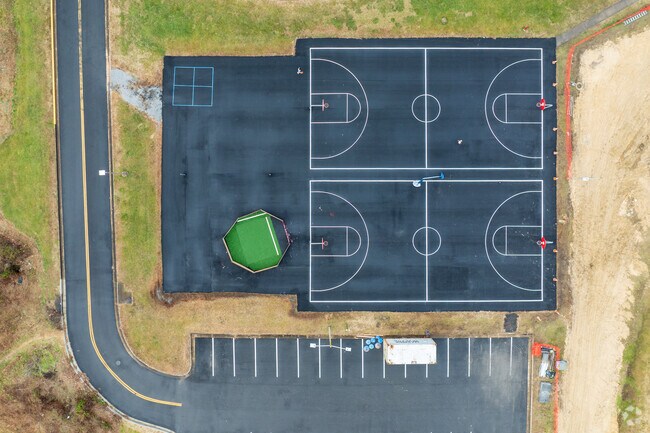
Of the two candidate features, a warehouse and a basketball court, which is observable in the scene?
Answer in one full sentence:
I can see a basketball court in this picture.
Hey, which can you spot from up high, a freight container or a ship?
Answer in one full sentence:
There is a freight container in the scene.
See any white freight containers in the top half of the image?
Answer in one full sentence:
No, no white freight container is visible in the top half of the image.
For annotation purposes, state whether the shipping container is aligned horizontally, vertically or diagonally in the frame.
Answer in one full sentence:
In this picture, the shipping container lies horizontally.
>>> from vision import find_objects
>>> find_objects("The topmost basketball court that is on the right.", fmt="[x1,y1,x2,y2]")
[310,48,543,169]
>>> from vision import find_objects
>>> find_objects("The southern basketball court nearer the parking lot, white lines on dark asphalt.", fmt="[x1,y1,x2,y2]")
[310,180,543,302]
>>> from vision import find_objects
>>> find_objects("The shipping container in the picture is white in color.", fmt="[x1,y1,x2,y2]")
[384,337,437,364]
